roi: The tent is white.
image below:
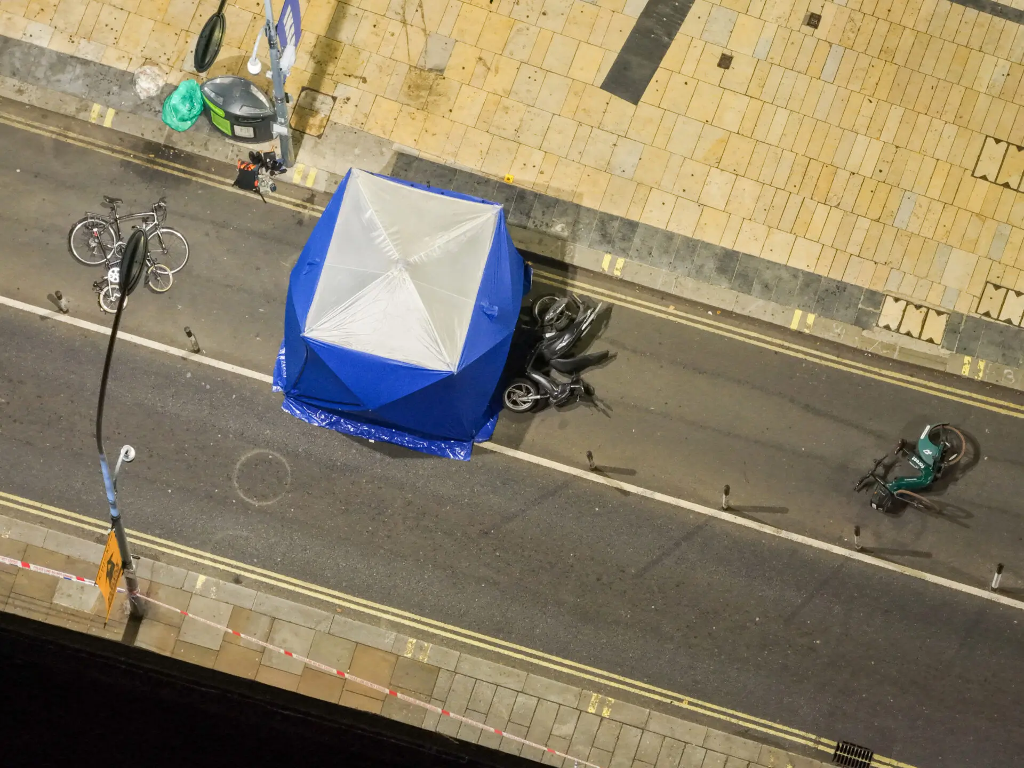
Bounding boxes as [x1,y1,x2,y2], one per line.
[272,168,533,460]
